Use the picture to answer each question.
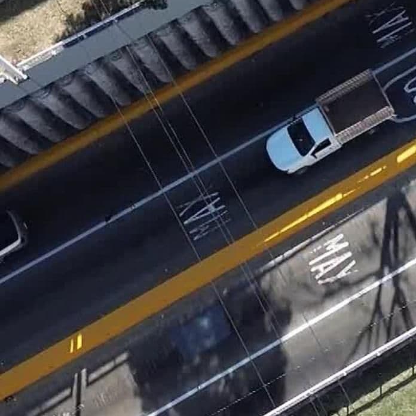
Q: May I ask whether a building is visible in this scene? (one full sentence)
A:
No, there is no building in the image.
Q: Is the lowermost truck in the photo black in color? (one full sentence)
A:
Yes, the lowermost truck is indeed black.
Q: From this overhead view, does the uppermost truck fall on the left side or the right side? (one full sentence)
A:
The uppermost truck sits on the right side.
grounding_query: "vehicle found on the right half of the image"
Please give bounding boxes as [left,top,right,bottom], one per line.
[264,71,396,175]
